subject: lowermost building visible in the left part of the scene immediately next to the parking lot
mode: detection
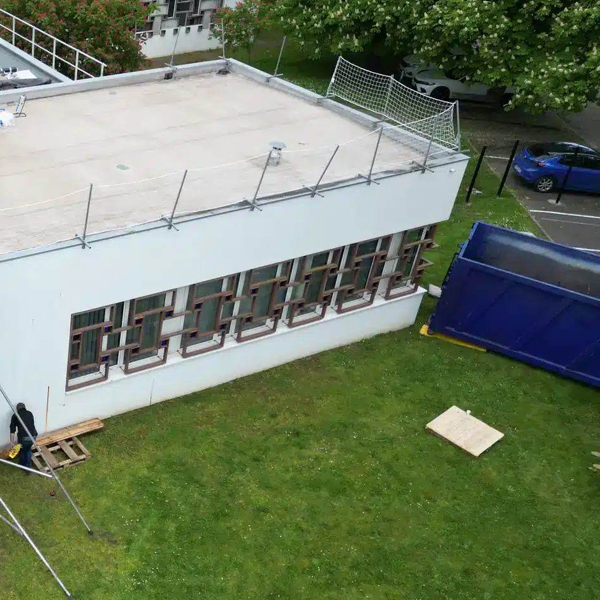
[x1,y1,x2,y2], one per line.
[0,61,470,448]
